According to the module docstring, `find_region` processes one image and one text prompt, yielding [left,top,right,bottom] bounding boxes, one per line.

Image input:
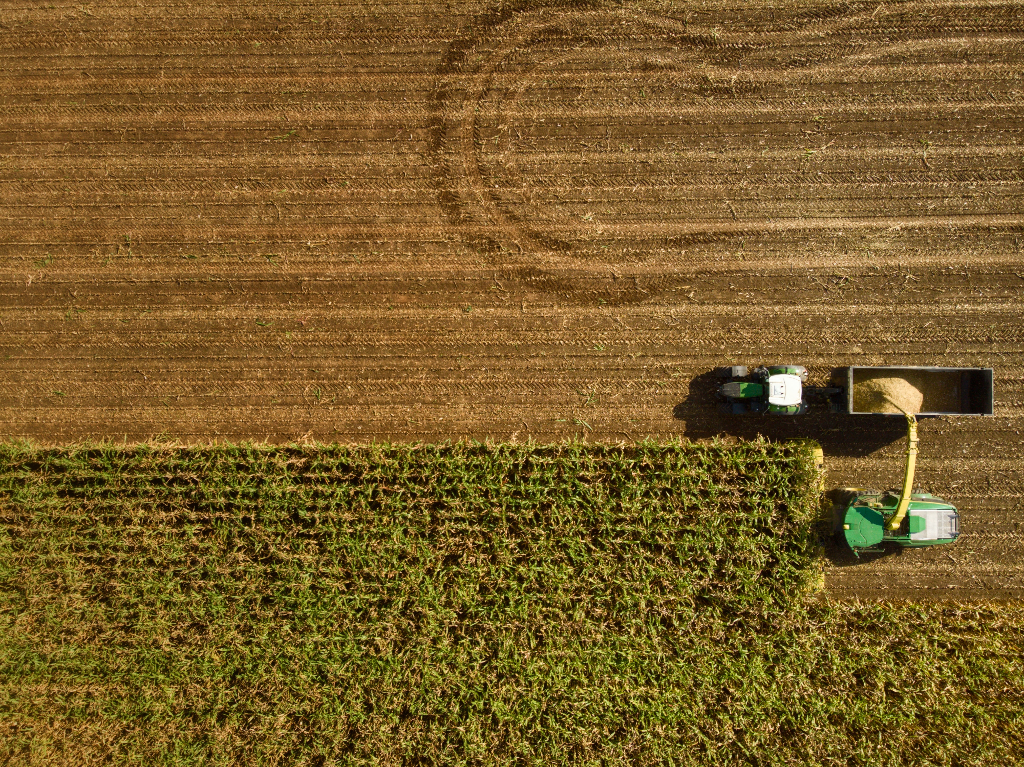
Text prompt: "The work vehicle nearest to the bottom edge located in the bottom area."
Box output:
[777,412,960,598]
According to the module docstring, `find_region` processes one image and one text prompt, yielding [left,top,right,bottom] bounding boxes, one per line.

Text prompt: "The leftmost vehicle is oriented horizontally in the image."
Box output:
[705,365,807,416]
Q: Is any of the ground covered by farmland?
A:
Yes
